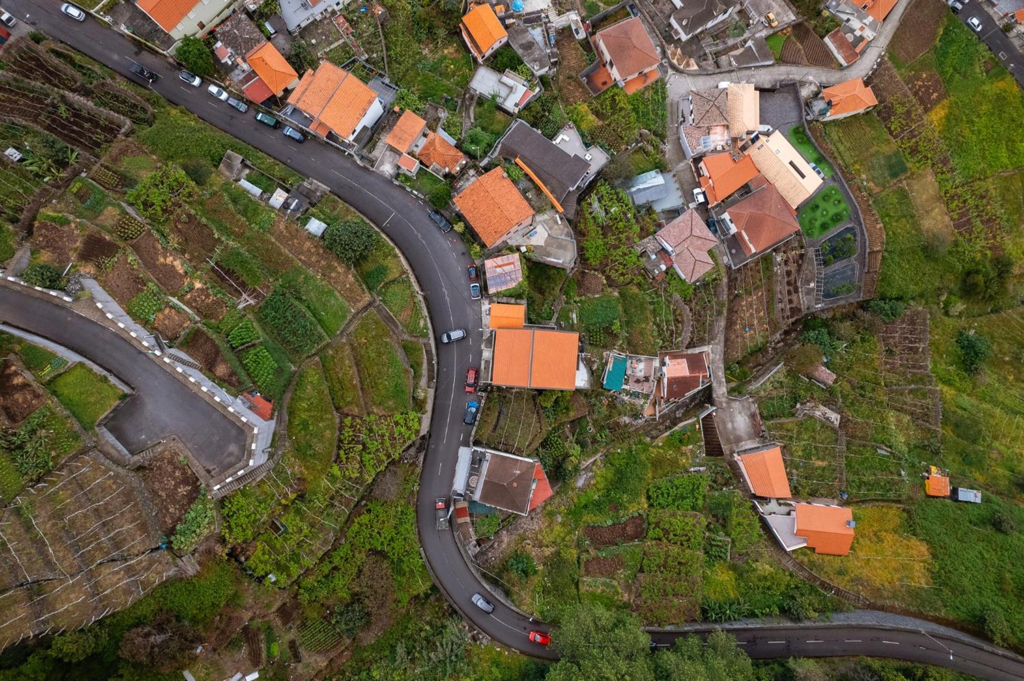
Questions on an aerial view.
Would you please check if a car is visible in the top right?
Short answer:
Yes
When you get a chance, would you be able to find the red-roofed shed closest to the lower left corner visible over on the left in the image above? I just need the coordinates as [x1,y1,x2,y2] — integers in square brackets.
[241,393,275,420]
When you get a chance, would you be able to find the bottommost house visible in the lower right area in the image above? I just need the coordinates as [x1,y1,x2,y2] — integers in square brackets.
[786,500,855,556]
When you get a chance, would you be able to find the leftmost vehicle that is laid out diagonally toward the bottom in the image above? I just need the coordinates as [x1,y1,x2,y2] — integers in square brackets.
[470,595,494,616]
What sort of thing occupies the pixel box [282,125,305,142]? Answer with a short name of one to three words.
car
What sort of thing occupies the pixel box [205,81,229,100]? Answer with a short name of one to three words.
car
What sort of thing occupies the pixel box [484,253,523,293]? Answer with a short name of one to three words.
house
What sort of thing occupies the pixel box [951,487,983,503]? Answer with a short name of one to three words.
shed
